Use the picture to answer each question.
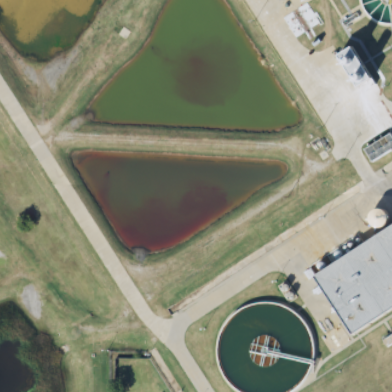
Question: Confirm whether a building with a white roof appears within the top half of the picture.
Yes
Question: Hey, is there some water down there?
Yes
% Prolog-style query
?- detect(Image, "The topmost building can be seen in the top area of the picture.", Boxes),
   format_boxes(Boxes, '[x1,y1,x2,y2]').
[284,4,324,40]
